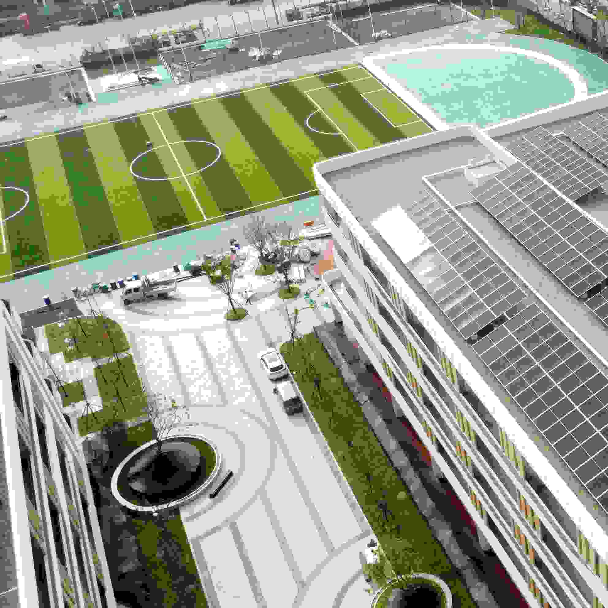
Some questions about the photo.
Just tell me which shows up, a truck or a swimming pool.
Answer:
truck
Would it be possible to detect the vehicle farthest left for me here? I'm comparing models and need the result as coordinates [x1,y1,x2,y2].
[117,268,177,303]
